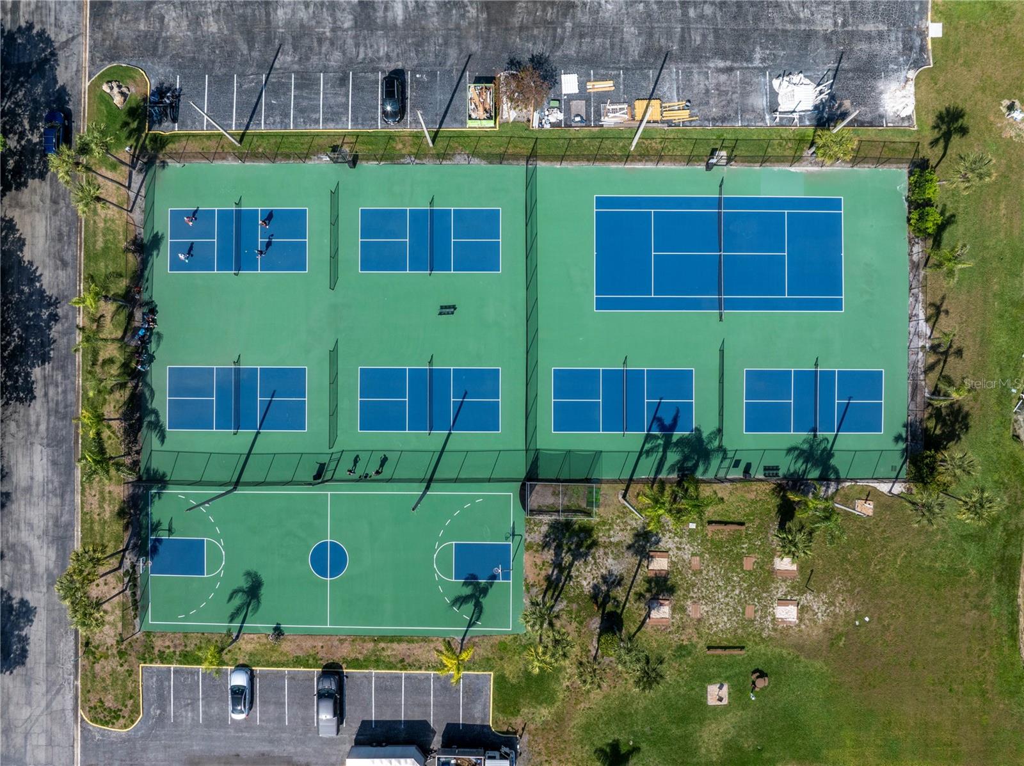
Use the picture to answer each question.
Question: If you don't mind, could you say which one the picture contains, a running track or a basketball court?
basketball court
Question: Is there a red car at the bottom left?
No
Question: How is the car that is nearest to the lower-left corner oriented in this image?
vertically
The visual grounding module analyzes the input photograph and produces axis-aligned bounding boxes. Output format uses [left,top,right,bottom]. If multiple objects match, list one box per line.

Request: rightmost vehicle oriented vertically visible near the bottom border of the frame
[314,672,341,736]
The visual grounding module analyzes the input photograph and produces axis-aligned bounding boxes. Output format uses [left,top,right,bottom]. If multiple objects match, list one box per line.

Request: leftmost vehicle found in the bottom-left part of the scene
[228,668,253,720]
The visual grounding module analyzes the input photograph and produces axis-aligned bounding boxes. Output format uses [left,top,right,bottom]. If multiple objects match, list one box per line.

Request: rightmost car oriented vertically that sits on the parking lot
[382,78,406,127]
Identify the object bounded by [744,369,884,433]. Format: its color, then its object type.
blue sports court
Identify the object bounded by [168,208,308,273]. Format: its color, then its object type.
blue sports court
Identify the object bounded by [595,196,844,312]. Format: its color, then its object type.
blue tennis court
